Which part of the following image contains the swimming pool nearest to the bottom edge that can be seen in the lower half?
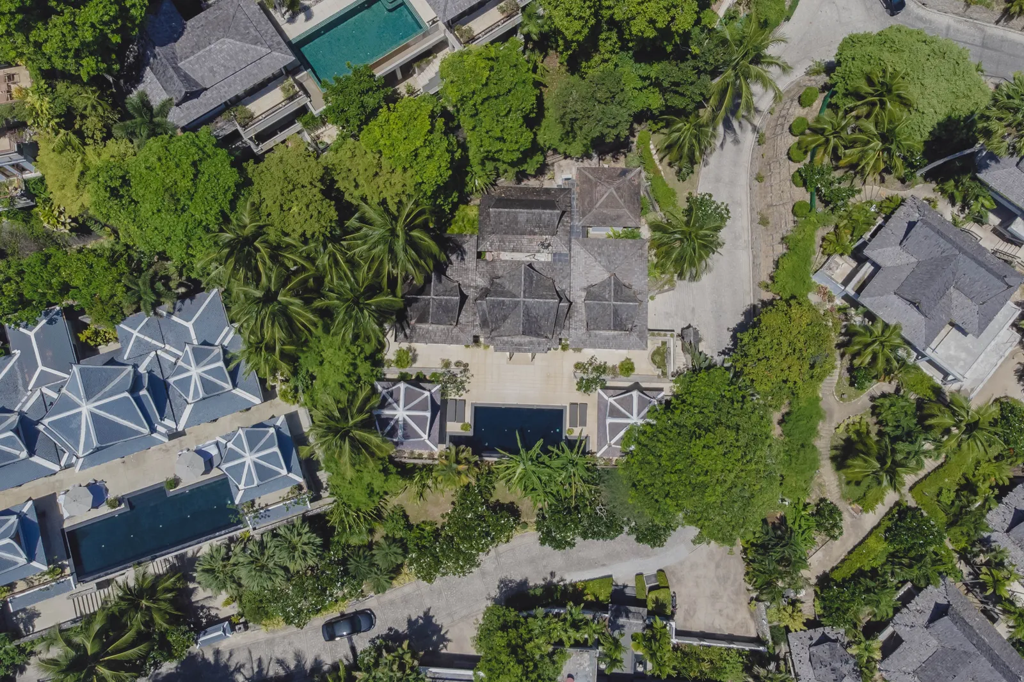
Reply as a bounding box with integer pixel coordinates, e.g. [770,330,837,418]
[62,478,248,587]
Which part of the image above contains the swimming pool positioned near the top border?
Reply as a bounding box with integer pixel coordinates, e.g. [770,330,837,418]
[290,0,428,102]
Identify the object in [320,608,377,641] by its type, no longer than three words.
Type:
car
